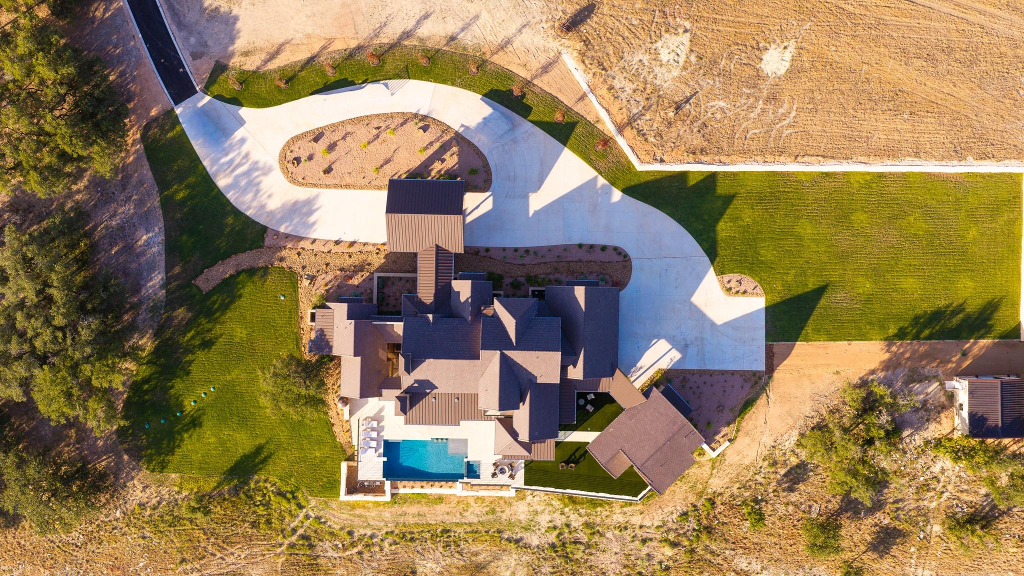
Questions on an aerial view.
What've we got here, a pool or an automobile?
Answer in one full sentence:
It is a pool that can be seen here.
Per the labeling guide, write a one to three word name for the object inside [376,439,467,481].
swimming pool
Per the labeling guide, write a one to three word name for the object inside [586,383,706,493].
house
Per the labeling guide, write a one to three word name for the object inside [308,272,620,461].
house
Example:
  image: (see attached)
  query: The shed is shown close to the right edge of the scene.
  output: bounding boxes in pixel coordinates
[954,375,1024,439]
